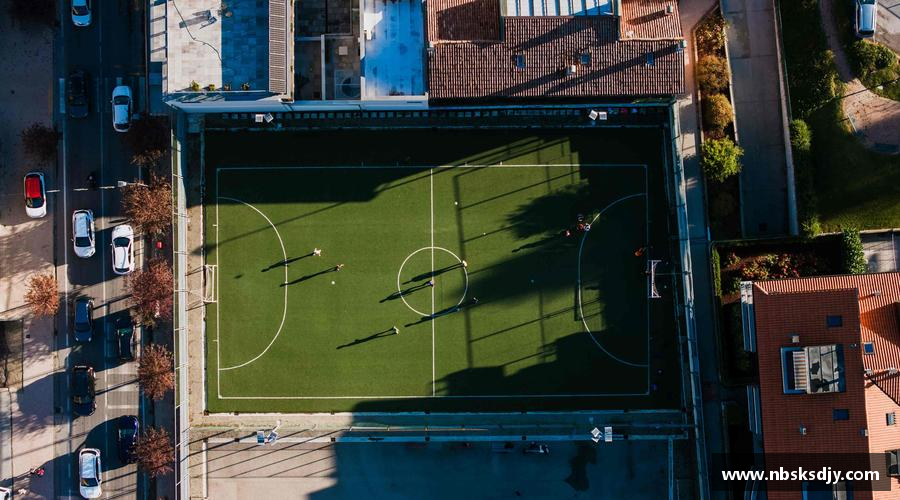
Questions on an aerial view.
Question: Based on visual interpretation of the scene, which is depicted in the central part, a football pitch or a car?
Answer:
football pitch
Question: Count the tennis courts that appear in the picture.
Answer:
0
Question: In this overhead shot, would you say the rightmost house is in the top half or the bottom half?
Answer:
bottom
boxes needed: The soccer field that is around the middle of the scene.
[201,127,685,416]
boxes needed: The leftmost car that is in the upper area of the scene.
[23,171,49,219]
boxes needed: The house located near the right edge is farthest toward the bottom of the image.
[738,273,900,500]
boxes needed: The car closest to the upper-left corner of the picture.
[69,0,93,29]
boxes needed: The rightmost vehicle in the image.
[853,0,880,40]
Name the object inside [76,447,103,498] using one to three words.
car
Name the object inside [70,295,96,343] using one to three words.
car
